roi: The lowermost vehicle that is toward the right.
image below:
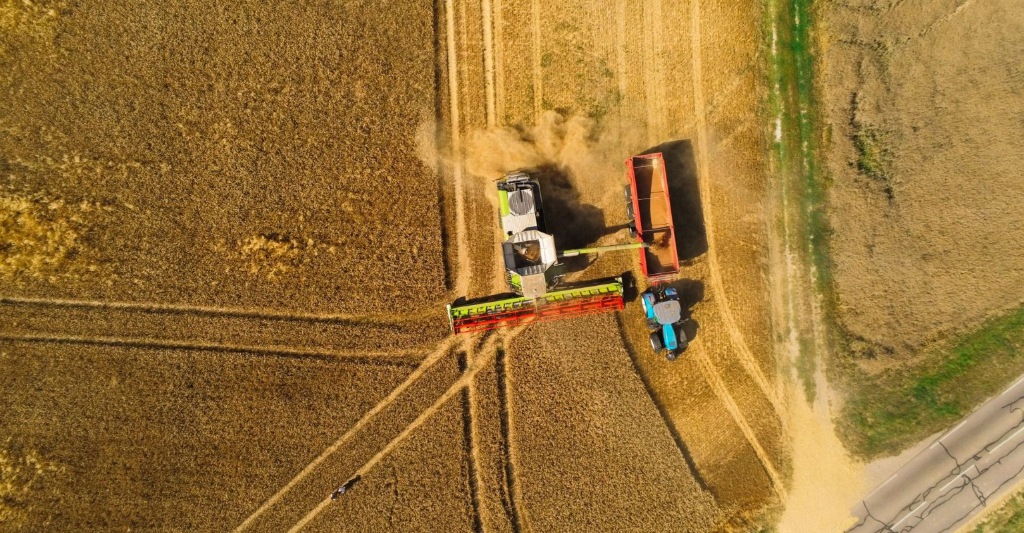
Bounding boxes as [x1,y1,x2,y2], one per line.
[638,282,689,359]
